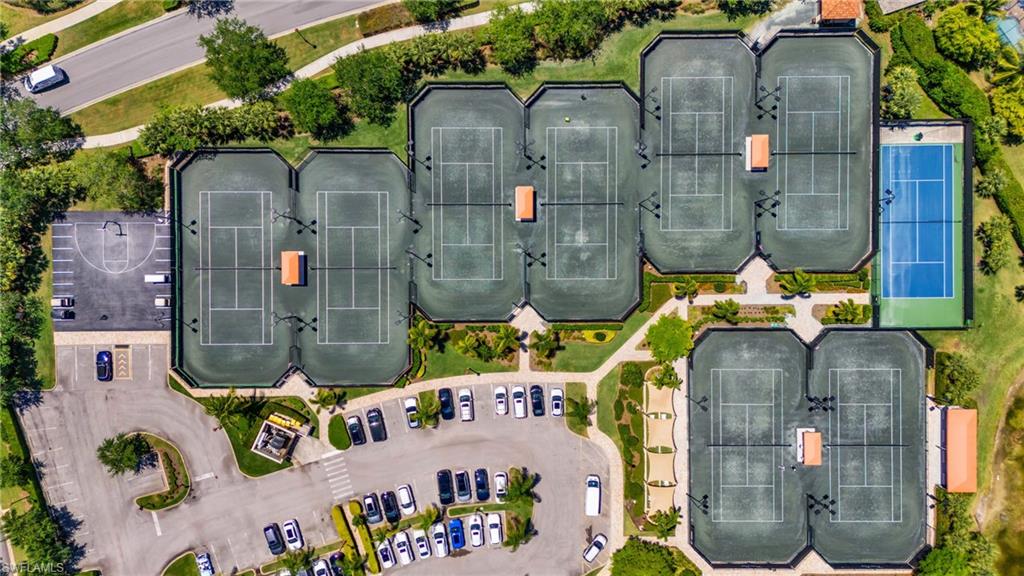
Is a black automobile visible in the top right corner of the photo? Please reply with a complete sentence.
No, there is no black automobile in the top right corner of the photo.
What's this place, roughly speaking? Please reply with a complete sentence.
What you see here is a sports ground.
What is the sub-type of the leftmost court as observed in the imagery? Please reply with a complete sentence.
I'd say the leftmost court is a basketball court.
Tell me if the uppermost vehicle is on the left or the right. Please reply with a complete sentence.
The uppermost vehicle is on the left side of the image.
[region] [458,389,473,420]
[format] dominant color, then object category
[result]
white car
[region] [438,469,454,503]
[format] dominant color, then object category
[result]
black car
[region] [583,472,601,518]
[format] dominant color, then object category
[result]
white vehicle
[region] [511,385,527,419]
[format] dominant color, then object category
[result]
white car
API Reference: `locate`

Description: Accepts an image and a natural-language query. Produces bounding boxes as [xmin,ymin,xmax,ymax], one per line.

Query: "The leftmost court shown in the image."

[75,222,156,276]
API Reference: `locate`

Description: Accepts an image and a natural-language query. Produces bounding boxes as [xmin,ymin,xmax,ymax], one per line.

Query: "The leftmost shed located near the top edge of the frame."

[810,0,863,30]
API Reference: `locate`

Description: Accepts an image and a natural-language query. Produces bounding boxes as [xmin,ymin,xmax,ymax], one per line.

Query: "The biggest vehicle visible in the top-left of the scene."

[27,64,66,91]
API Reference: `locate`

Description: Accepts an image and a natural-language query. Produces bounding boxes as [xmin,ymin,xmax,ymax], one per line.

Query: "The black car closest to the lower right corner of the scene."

[530,384,544,415]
